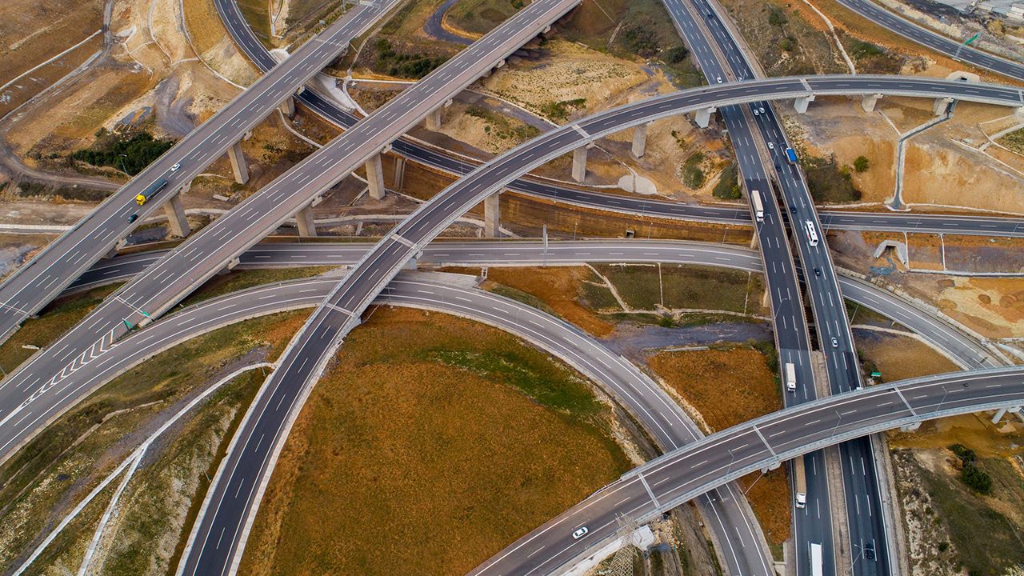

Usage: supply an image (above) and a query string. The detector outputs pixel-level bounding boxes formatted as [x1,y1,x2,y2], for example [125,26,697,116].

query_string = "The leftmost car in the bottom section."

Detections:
[573,527,589,539]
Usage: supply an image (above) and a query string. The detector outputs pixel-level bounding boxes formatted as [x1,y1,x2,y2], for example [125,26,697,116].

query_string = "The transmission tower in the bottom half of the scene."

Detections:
[606,523,650,576]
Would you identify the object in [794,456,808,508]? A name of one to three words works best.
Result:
vehicle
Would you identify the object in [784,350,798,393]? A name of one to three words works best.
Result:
vehicle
